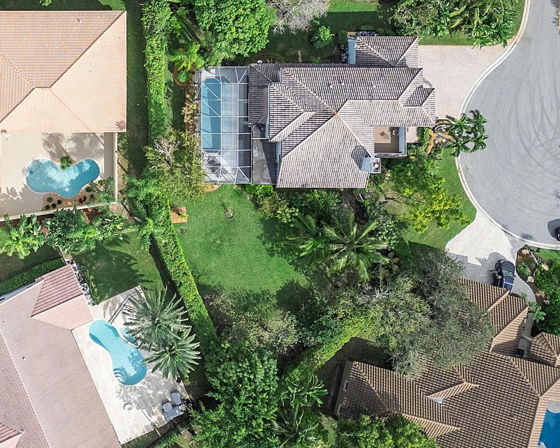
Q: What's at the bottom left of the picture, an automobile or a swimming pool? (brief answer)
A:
swimming pool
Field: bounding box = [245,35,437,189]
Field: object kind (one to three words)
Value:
house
